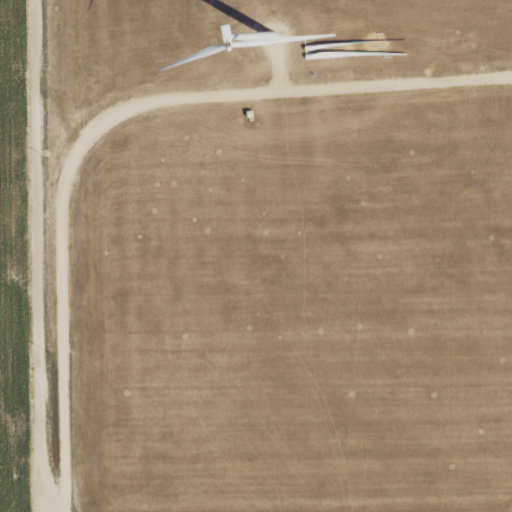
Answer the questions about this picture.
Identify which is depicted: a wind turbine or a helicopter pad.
wind turbine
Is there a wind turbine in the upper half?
Yes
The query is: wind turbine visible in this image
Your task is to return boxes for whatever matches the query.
[162,24,336,70]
